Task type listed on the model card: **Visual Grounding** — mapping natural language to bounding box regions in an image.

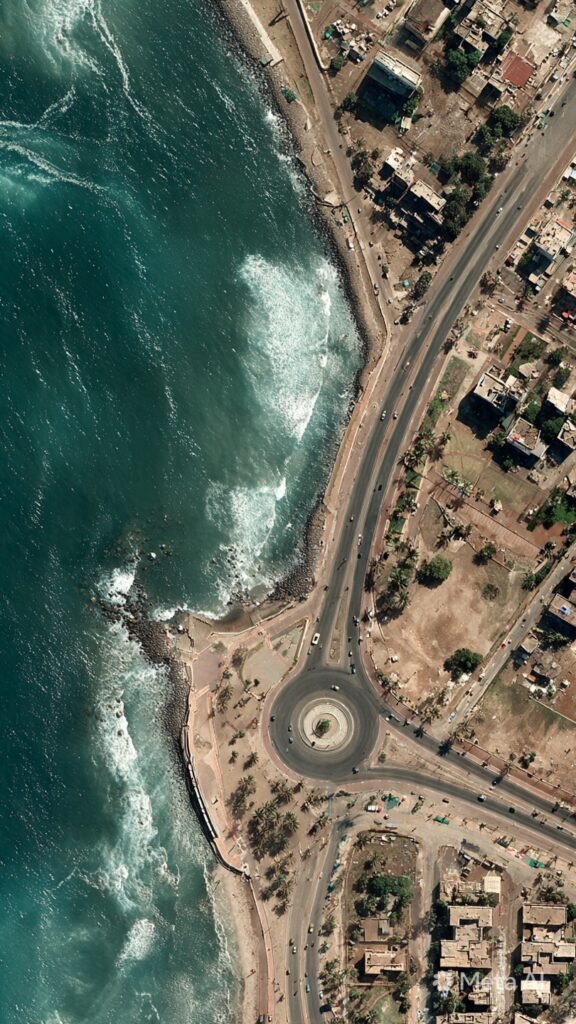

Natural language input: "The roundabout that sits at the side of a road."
[269,667,383,782]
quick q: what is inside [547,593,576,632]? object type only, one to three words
house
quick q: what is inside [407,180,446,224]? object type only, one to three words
building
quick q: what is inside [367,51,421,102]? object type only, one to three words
building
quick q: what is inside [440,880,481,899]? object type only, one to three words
house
